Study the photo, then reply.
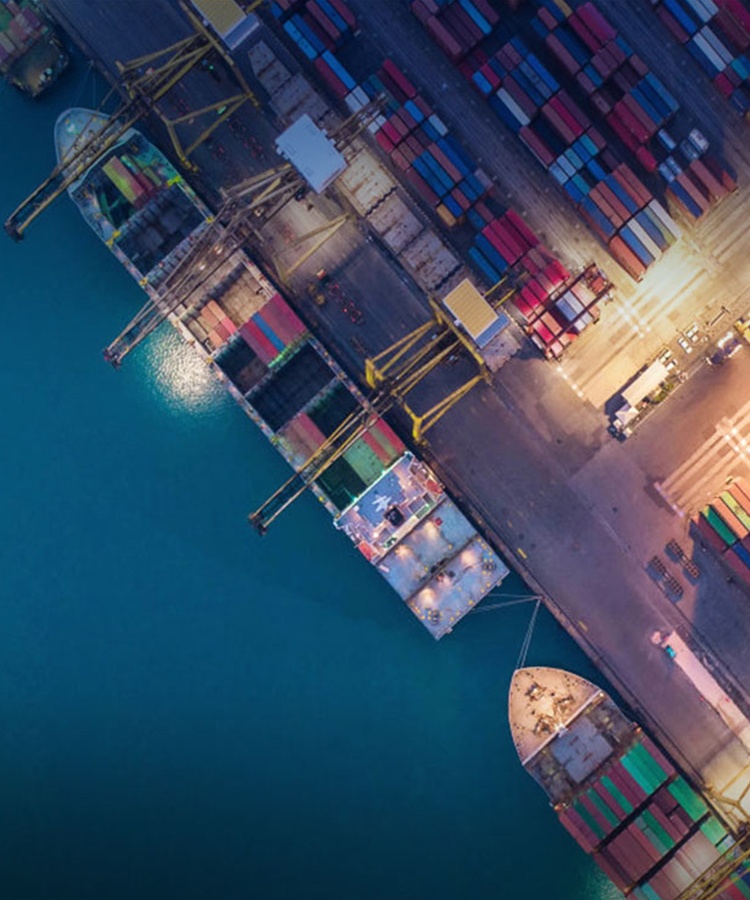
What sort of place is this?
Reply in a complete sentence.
What you see here is a port.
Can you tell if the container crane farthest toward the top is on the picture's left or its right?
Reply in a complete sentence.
You can find the container crane farthest toward the top on the left side of the picture.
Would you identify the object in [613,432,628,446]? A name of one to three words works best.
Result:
car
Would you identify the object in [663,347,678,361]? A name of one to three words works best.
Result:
car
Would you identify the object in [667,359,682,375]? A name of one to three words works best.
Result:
vehicle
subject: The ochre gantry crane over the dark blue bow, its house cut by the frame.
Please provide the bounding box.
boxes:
[0,0,266,234]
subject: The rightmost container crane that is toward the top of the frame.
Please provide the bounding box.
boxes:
[515,263,615,372]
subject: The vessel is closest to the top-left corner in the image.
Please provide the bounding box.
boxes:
[0,22,77,102]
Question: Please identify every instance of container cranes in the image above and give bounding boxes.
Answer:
[679,761,750,900]
[98,93,391,375]
[244,258,528,535]
[515,263,615,372]
[0,0,266,234]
